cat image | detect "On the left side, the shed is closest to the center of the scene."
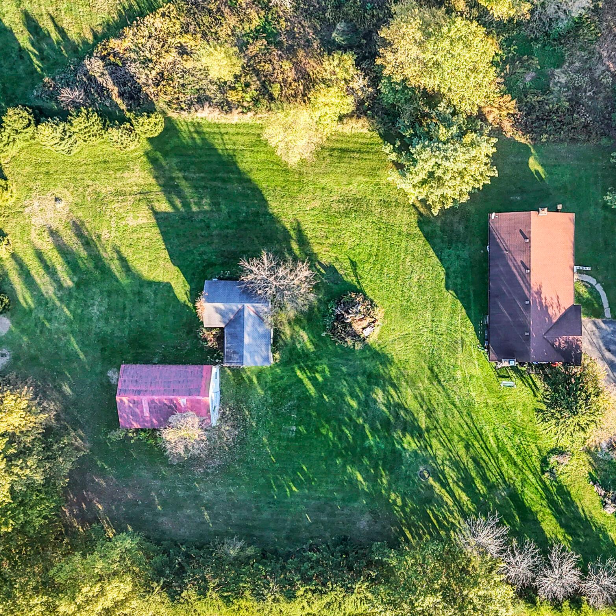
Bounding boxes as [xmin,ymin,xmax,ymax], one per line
[200,280,278,367]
